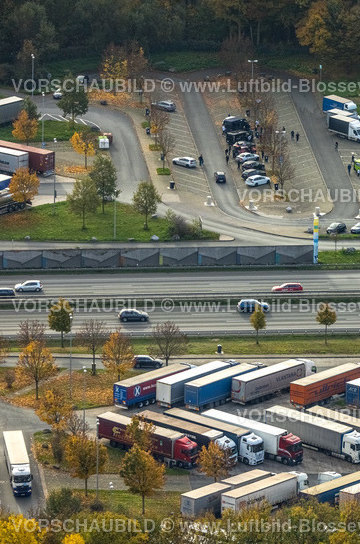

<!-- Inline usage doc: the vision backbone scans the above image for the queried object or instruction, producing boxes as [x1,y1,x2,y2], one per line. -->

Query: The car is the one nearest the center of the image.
[118,308,150,322]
